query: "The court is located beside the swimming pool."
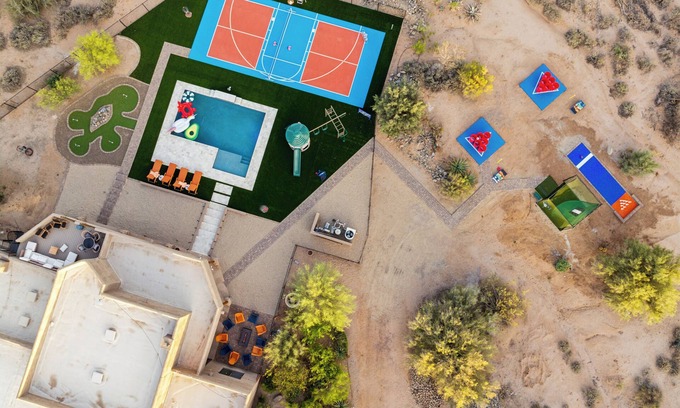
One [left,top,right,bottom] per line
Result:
[188,0,386,107]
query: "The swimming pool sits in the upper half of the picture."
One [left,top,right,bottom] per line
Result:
[151,80,278,191]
